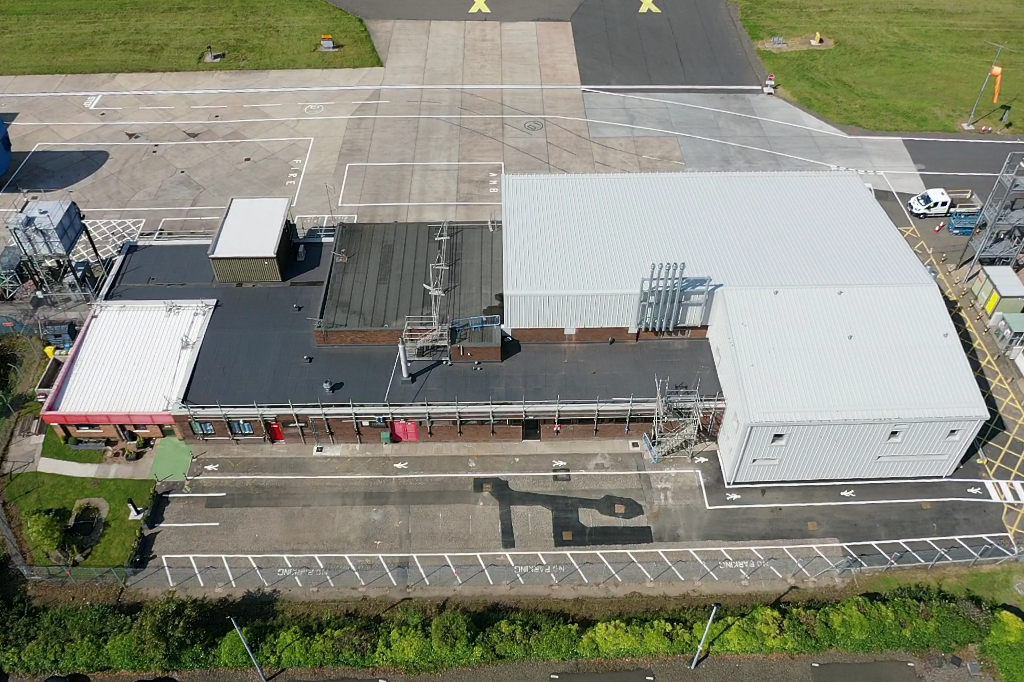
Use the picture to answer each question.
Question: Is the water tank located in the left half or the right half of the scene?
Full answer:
The water tank sits on the left side.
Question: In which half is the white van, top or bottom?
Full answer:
It is in the top half that the white van appears.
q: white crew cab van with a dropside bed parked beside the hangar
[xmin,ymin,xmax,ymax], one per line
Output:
[900,186,986,219]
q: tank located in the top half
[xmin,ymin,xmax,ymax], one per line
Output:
[0,189,109,302]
